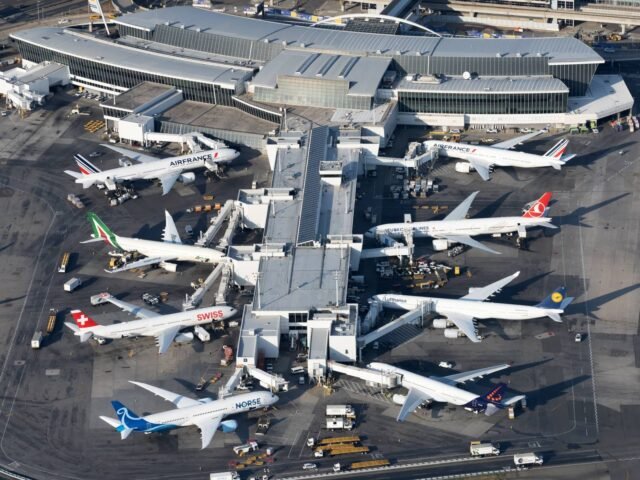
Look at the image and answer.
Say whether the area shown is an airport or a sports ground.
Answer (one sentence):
What you see here is an airport.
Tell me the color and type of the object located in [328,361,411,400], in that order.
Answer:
white jet bridge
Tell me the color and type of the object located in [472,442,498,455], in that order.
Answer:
white vehicle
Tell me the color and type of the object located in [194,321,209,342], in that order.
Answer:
white vehicle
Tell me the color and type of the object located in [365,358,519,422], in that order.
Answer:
white airplane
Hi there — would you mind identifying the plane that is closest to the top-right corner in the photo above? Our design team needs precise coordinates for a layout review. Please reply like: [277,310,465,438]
[428,129,574,179]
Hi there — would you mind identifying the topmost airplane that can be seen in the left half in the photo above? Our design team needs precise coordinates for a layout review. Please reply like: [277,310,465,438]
[67,144,238,195]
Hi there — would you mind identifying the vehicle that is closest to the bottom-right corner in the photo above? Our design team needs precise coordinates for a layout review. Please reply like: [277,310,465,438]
[514,453,541,466]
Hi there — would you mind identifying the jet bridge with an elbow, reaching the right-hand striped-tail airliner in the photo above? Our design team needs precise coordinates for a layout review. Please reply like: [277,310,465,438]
[368,146,447,180]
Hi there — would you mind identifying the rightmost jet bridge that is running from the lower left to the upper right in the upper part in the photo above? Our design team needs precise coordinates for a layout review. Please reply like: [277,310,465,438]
[403,141,429,162]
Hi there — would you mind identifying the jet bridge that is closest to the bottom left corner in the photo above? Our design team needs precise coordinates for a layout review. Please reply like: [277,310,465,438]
[218,362,248,401]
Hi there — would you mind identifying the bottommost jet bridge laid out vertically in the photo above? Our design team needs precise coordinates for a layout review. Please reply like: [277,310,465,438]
[215,263,236,307]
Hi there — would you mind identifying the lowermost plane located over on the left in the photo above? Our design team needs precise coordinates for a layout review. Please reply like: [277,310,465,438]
[106,379,279,448]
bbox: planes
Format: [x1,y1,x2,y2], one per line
[366,190,555,254]
[67,144,238,195]
[428,129,574,179]
[81,208,228,272]
[69,290,236,356]
[374,266,575,339]
[365,358,519,422]
[106,379,279,448]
